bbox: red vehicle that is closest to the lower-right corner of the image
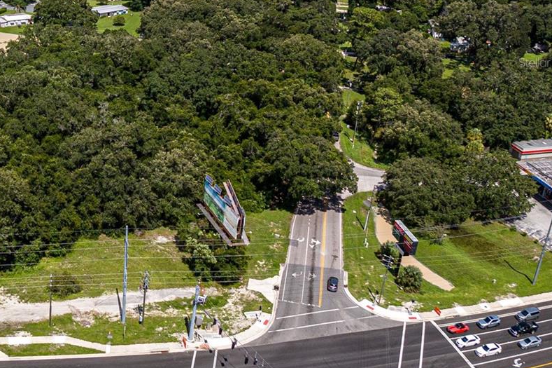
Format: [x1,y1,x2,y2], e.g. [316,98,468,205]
[446,323,471,336]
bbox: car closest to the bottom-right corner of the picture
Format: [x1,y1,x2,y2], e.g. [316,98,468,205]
[518,336,542,350]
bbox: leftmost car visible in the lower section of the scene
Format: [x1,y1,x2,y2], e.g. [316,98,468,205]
[327,278,339,294]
